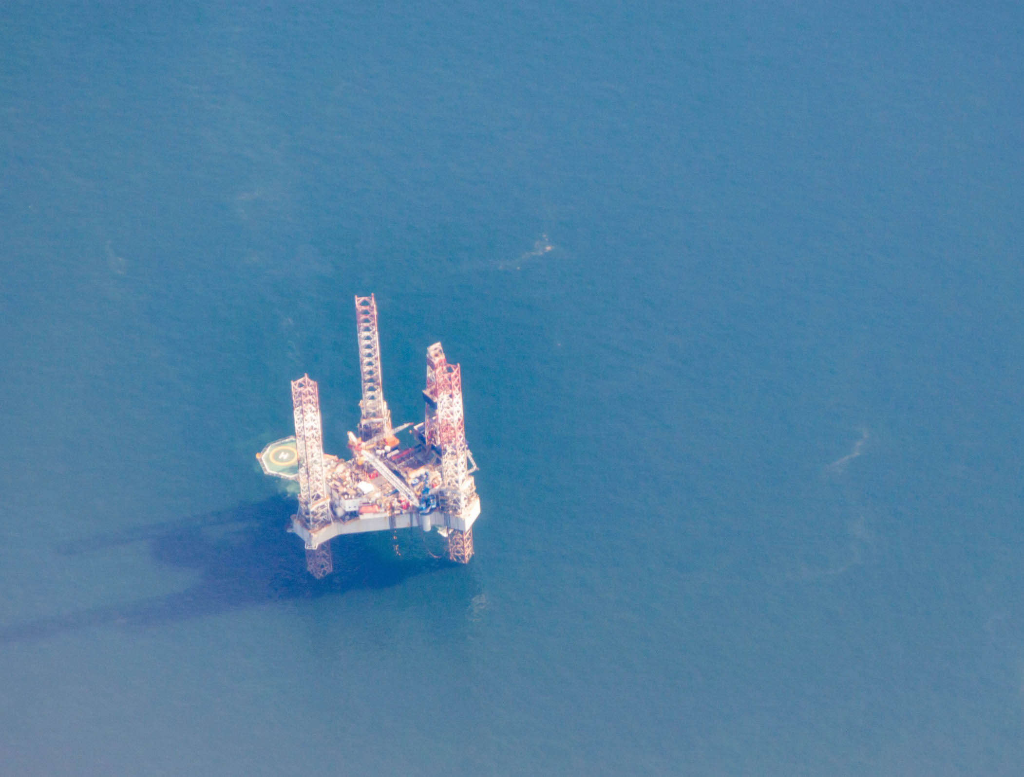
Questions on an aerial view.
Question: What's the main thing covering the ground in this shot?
water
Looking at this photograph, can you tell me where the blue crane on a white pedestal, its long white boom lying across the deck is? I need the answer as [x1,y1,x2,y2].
[360,450,438,532]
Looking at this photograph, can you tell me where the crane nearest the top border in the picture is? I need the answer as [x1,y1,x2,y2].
[347,421,420,469]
